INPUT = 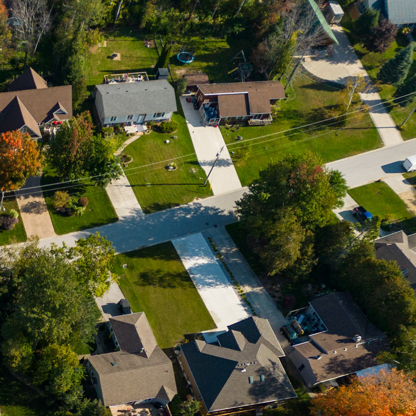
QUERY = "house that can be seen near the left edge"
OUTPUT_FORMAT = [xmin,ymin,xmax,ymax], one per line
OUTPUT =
[0,56,73,148]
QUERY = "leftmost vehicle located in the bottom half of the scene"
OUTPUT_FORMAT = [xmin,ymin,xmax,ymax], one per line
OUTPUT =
[117,292,133,314]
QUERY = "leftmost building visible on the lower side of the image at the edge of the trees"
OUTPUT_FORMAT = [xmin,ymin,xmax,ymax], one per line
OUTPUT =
[85,312,178,415]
